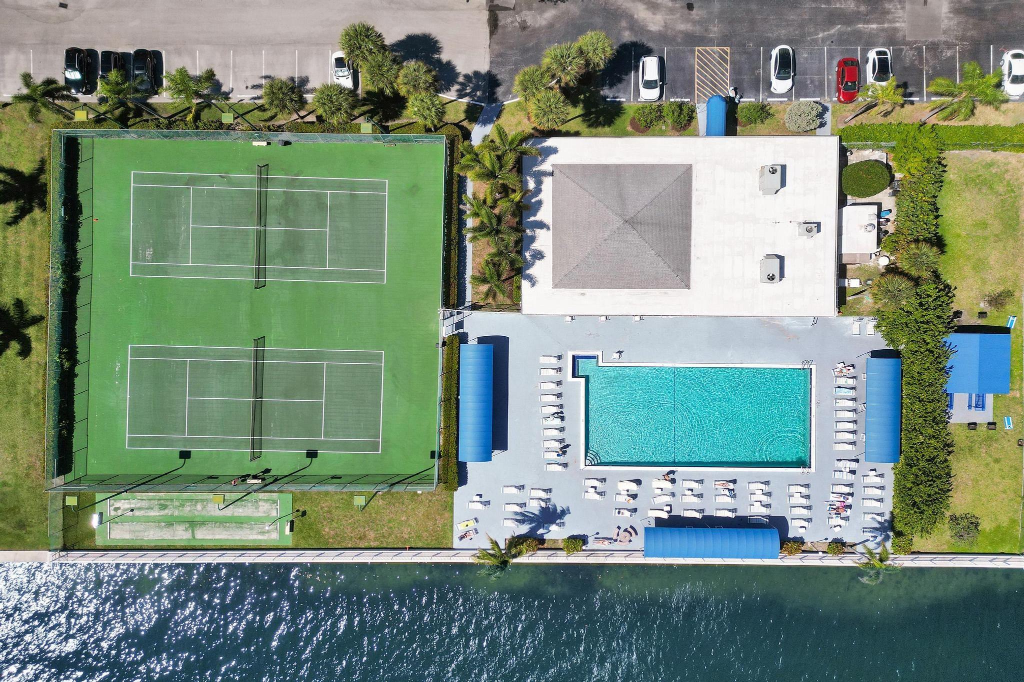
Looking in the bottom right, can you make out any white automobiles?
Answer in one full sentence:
No, I can find no white automobile in the bottom right.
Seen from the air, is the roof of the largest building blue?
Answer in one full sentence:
No, from above the roof of the largest building looks white.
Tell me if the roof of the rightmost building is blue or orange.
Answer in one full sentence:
In this view, the roof of the rightmost building is blue.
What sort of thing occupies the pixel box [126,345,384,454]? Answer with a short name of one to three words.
tennis court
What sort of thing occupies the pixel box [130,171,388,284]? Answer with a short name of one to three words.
tennis court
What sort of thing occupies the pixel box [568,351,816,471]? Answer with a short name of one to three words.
swimming pool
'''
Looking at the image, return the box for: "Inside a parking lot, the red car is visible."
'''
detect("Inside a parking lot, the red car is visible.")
[834,57,861,102]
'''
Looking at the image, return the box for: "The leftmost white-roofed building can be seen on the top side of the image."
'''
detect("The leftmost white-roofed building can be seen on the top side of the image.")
[521,136,839,317]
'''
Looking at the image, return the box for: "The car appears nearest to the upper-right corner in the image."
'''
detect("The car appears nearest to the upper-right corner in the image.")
[999,48,1024,97]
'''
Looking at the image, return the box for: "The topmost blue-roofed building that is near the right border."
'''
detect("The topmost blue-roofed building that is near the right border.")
[938,333,1010,394]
